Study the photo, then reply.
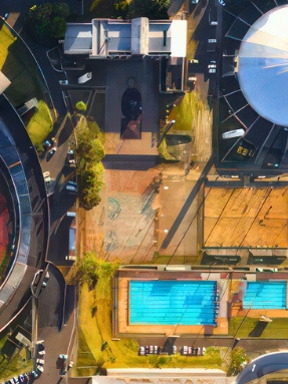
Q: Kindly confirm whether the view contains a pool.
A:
Yes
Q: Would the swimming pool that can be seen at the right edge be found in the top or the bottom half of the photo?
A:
bottom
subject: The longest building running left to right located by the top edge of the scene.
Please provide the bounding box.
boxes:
[59,19,187,61]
